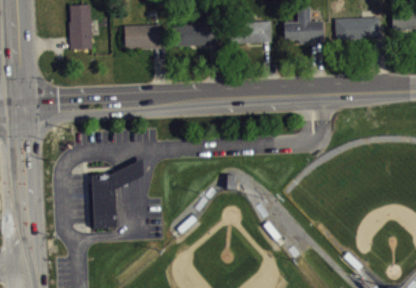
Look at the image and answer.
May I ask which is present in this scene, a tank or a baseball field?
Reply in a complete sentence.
Looking from above, you can make out a baseball field.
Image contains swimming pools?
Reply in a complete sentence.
No, there's no swimming pool here.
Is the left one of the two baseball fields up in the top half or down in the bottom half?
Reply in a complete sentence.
The left one of the two baseball fields sits in the bottom half of the picture.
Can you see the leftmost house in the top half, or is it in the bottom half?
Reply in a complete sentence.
It is in the top half that the leftmost house appears.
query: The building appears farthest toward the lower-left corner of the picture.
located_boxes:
[92,158,144,233]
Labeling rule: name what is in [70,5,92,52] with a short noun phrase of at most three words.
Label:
house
